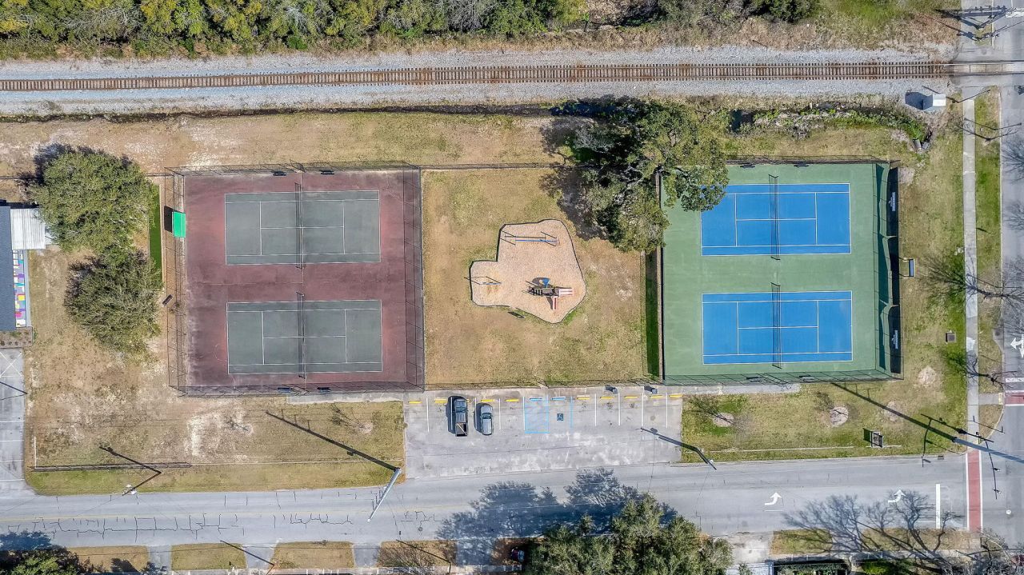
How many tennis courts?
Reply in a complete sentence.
I count 4 tennis courts.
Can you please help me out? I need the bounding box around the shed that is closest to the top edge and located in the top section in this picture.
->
[921,93,946,112]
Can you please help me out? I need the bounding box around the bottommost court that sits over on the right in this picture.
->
[662,272,893,385]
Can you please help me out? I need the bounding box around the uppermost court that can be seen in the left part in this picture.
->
[185,169,424,284]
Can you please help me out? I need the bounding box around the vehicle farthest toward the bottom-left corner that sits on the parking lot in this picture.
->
[453,399,469,438]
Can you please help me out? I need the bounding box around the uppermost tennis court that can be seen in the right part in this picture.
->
[660,163,892,274]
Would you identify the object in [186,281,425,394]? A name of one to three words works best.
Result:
tennis court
